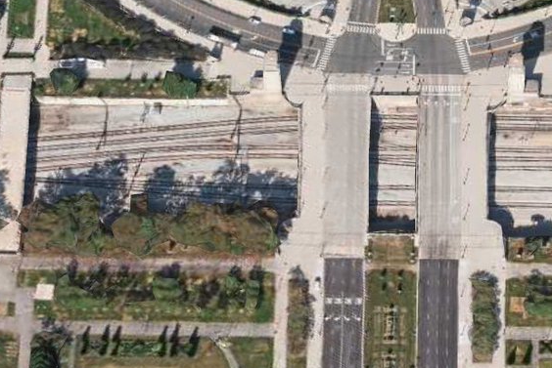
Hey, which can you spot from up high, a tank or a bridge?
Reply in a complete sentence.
The image shows a bridge.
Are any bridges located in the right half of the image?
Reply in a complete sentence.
Yes, a bridge appears in the right half of the image.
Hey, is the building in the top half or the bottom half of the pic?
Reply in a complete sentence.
It is in the bottom half that the building appears.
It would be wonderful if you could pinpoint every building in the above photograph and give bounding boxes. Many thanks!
[34,284,54,305]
